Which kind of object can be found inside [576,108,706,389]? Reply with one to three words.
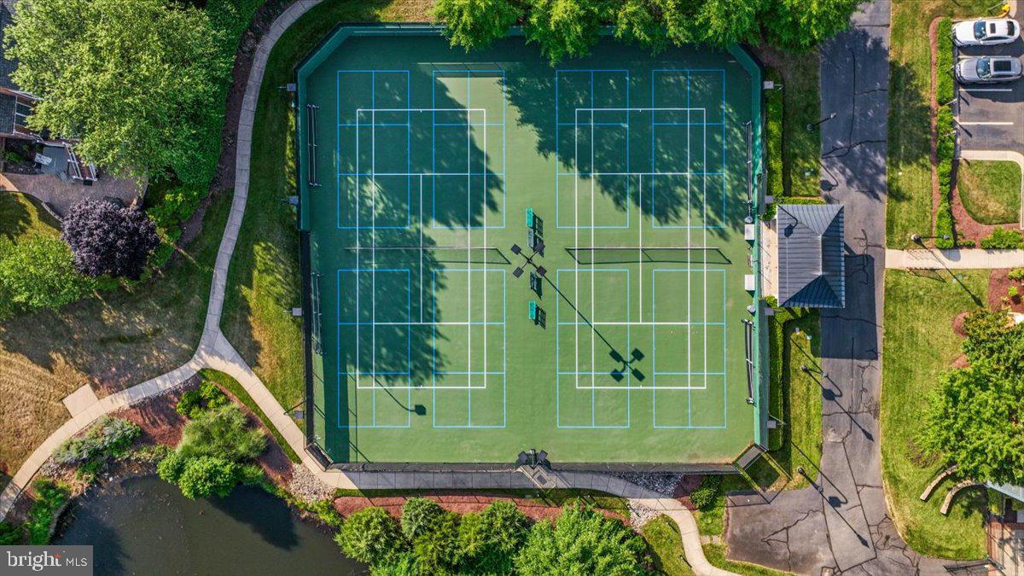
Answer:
tennis court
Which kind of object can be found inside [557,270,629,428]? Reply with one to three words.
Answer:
sports court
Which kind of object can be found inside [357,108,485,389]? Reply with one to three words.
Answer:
tennis court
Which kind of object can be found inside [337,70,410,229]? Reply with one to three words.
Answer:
sports court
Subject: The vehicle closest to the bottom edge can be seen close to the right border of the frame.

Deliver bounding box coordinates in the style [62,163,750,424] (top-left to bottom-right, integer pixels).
[955,54,1024,84]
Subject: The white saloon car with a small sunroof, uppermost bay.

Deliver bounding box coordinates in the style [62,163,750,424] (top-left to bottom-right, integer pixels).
[953,17,1020,46]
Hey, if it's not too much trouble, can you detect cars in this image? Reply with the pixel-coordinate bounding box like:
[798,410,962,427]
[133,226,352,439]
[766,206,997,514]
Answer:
[953,17,1020,46]
[955,54,1024,84]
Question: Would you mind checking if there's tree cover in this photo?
Yes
